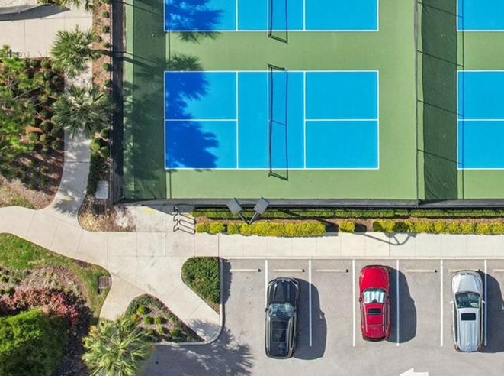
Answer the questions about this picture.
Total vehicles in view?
three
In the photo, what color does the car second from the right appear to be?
red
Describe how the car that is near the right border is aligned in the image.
from top to bottom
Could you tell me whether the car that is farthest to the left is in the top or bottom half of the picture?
bottom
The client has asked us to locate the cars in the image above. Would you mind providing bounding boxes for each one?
[356,263,394,340]
[262,275,301,359]
[449,269,489,351]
